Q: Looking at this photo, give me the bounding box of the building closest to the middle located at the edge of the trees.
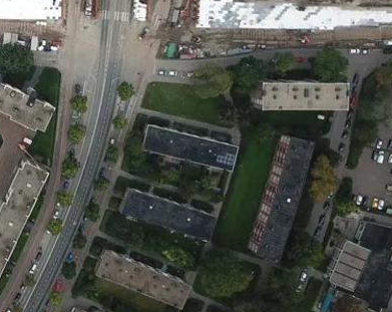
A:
[139,120,239,171]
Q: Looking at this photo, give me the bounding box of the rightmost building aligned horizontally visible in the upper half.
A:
[250,77,349,111]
